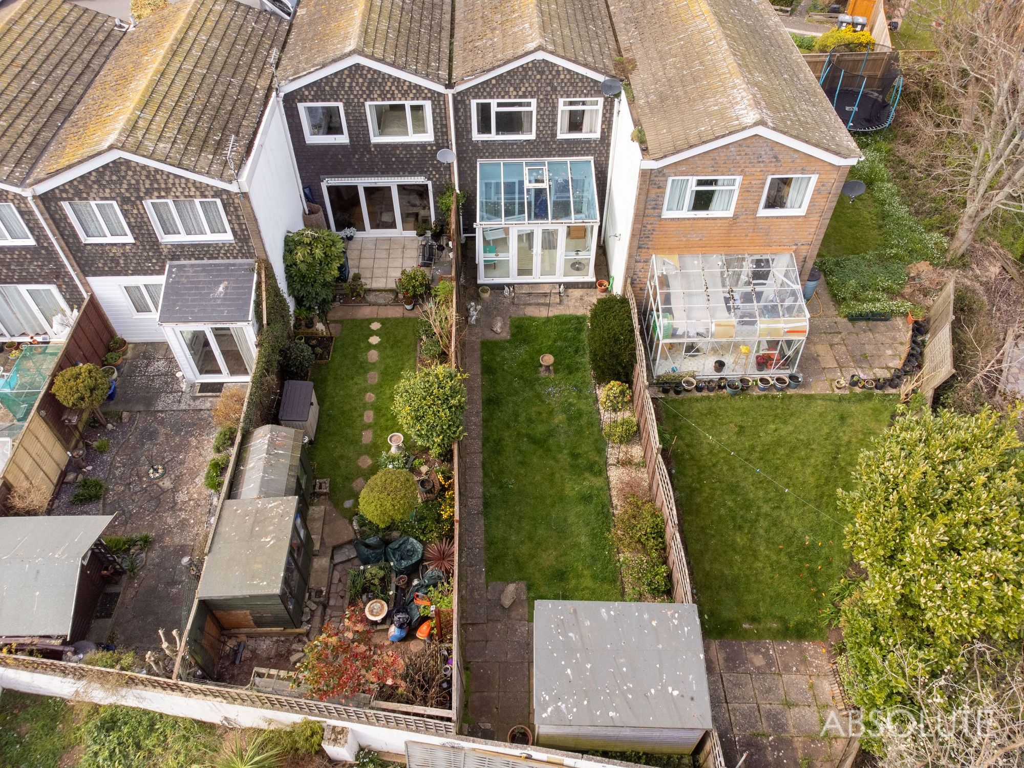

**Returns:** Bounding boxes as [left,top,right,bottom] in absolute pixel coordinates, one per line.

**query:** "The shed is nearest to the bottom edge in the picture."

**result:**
[533,597,712,754]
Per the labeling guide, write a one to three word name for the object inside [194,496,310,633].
shed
